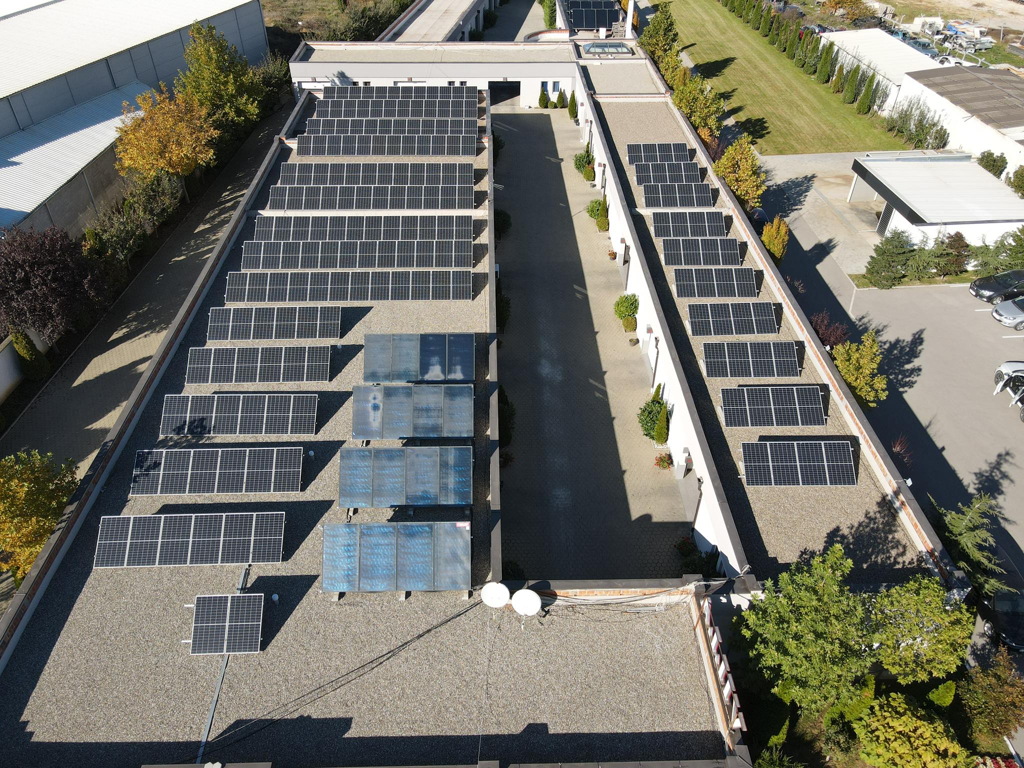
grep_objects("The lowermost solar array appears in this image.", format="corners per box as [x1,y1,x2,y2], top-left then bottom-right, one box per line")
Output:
[172,596,270,656]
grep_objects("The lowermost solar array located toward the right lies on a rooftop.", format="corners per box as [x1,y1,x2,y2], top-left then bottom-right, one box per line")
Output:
[736,443,859,489]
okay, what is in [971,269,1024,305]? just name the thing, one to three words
car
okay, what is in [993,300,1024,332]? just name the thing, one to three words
car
